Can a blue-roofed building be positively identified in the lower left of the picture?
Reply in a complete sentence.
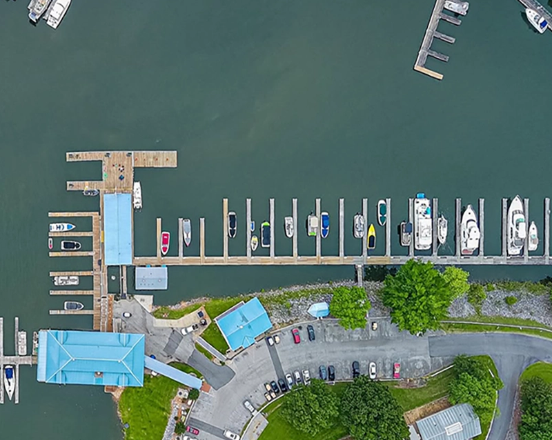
Yes, a blue-roofed building can be seen in the lower left of the picture.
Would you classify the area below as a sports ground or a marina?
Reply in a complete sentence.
It's a marina.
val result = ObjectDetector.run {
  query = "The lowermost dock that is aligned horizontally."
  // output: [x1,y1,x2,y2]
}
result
[134,197,552,265]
